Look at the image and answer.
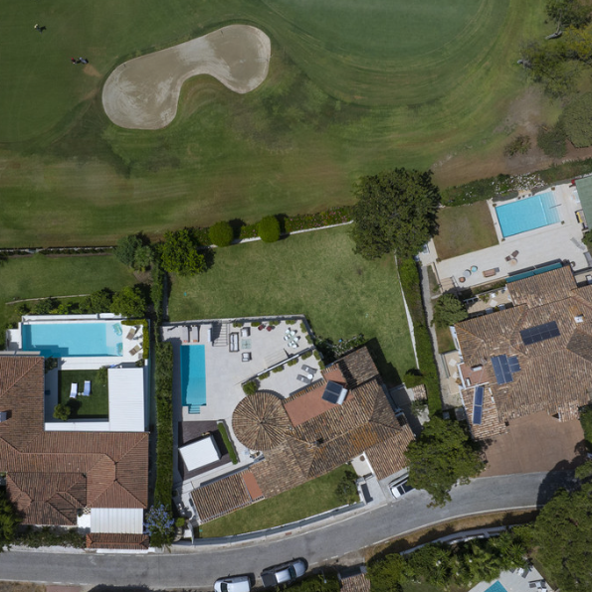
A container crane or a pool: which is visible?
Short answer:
pool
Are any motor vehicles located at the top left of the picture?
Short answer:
No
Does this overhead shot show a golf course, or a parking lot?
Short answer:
golf course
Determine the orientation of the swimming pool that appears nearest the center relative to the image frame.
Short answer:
up and down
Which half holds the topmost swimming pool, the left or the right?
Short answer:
right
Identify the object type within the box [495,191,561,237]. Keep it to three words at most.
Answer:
swimming pool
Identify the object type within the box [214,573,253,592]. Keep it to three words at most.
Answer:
car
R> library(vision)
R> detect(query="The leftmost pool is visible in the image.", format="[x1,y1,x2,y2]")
[21,324,122,357]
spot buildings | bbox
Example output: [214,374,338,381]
[452,265,592,439]
[568,176,592,230]
[339,566,369,592]
[0,356,150,551]
[411,385,427,403]
[190,346,415,522]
